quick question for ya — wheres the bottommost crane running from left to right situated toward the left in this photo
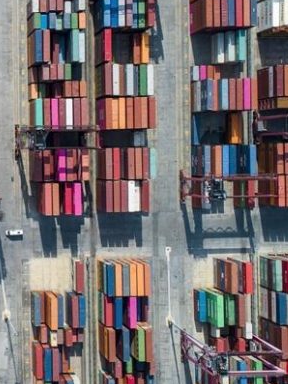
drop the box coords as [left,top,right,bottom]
[16,123,104,155]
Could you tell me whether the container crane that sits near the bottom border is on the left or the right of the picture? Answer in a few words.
right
